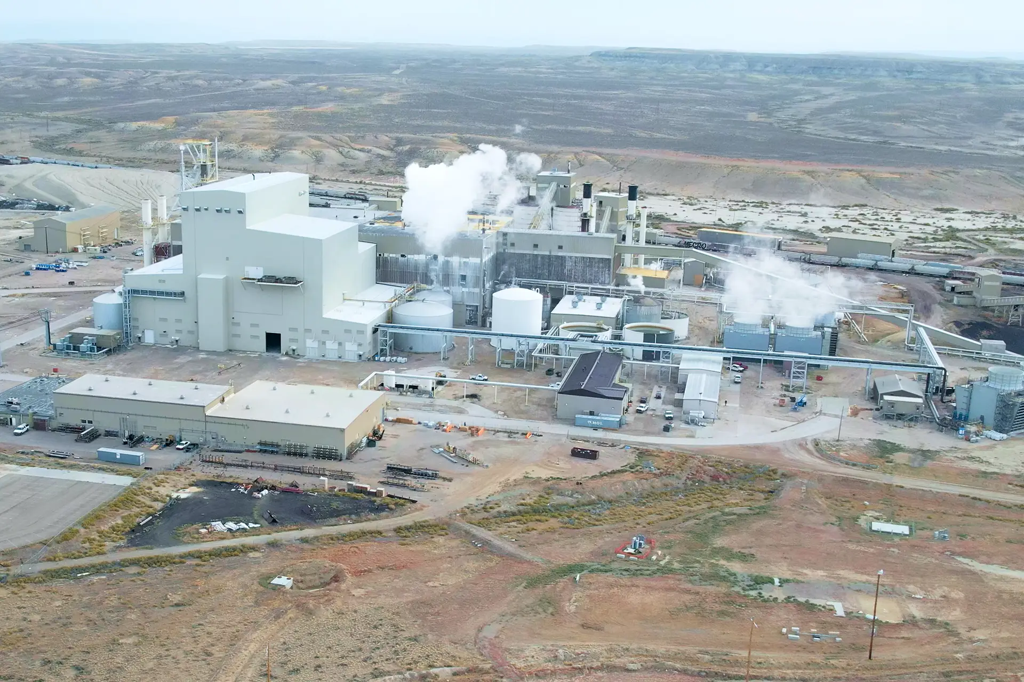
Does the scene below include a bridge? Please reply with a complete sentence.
Yes, a bridge is visible in the scene.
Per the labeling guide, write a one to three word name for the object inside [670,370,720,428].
shed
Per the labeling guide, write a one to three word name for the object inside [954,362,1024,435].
cooling tower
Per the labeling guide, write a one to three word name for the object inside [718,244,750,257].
rail car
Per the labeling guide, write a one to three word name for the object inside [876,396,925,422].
building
